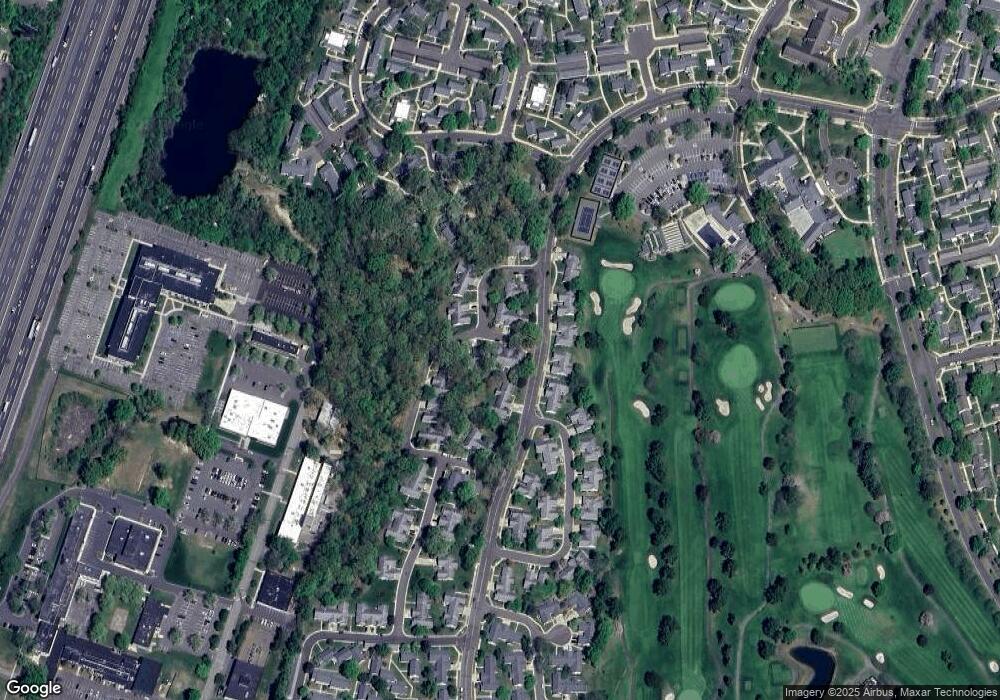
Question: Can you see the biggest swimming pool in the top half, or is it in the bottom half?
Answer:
top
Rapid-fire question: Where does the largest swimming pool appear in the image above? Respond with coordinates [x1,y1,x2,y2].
[686,208,741,251]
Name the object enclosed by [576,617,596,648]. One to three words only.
house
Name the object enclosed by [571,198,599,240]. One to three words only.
tennis court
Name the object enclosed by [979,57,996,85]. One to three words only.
house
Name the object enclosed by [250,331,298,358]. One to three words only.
building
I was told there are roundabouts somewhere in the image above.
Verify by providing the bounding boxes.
[822,158,862,197]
